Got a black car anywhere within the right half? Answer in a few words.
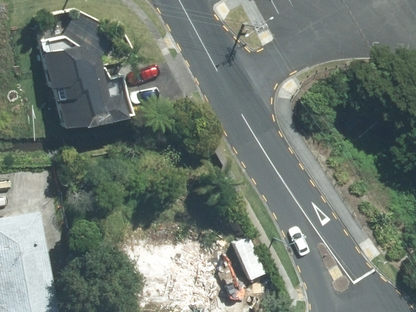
No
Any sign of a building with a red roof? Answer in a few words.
No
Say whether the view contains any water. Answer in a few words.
No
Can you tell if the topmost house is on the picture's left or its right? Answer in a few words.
left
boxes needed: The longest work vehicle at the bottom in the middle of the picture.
[218,252,246,306]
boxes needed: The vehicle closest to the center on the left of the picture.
[130,86,160,104]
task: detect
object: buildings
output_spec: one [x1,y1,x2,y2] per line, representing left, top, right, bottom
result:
[230,235,266,280]
[0,210,58,312]
[37,18,134,128]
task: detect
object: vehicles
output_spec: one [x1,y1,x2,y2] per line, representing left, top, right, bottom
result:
[285,225,311,256]
[126,64,160,84]
[218,252,246,306]
[0,196,8,208]
[130,86,160,104]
